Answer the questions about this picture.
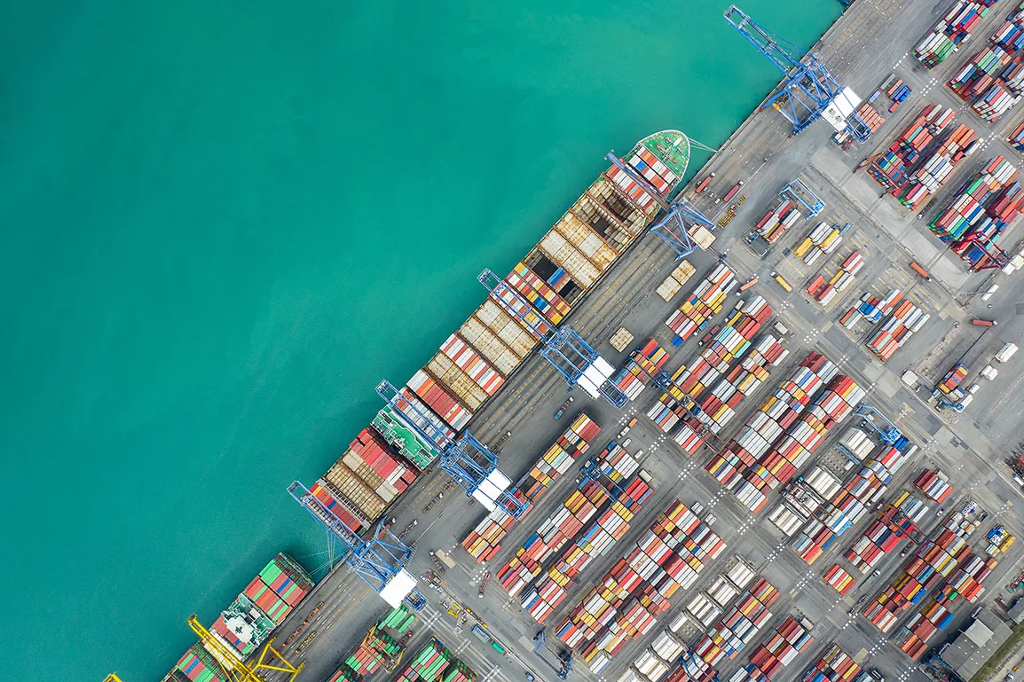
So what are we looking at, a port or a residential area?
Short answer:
port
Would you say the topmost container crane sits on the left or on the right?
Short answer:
right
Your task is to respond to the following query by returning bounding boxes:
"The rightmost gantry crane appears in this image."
[948,231,1011,275]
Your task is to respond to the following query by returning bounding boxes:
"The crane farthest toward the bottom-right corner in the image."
[861,496,924,551]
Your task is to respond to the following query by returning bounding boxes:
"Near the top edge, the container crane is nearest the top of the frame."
[722,0,876,144]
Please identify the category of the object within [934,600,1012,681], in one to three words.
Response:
building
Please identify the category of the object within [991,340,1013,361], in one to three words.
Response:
truck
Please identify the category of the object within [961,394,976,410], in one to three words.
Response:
vehicle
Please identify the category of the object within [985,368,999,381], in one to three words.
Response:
vehicle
